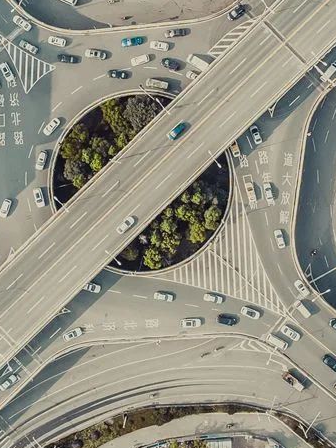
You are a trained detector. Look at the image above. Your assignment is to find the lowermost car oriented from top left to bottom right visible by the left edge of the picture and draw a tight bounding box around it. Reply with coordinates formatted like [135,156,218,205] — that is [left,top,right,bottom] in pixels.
[0,61,15,81]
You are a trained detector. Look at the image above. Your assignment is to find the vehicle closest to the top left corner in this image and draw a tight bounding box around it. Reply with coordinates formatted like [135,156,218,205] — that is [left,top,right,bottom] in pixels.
[12,16,30,31]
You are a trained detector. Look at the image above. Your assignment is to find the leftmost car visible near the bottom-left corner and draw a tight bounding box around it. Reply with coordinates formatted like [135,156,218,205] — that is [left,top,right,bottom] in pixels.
[1,373,20,390]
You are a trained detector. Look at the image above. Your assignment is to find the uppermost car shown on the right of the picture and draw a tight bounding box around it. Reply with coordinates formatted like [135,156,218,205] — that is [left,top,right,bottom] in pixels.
[228,3,246,19]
